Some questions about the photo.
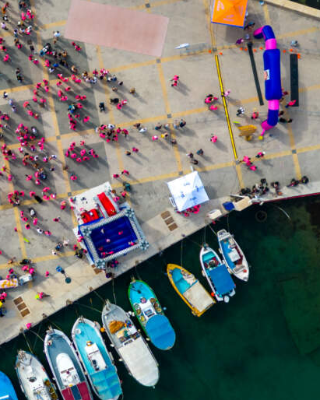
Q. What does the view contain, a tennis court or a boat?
boat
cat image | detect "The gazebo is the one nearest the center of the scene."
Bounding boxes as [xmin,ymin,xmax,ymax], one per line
[163,171,209,212]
